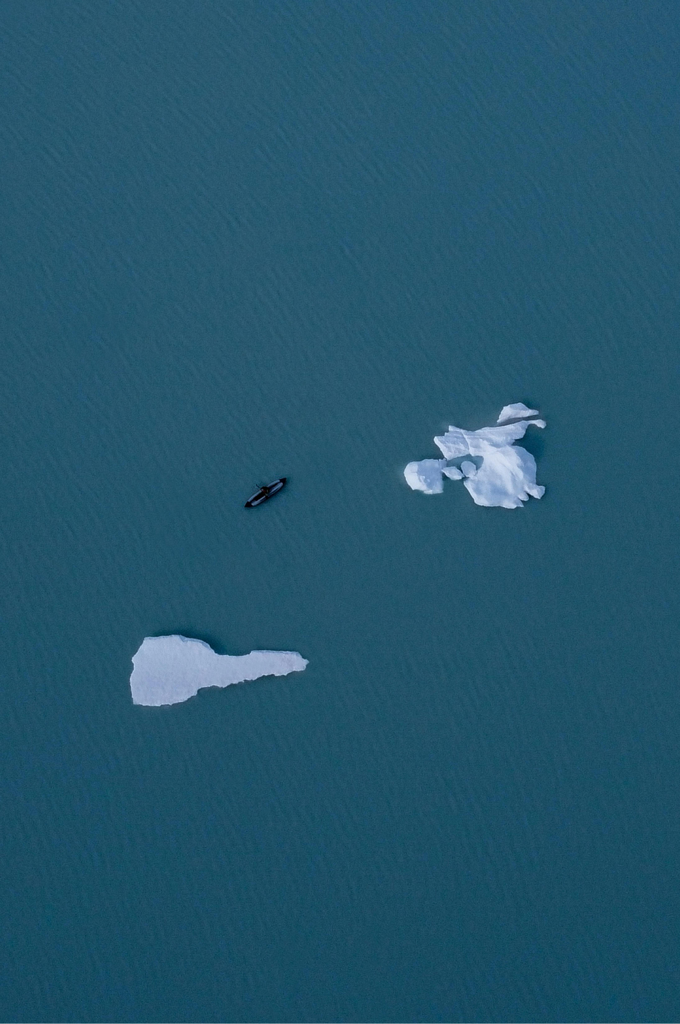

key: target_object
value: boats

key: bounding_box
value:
[244,478,286,507]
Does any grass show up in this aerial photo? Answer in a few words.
No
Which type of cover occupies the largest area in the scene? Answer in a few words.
water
